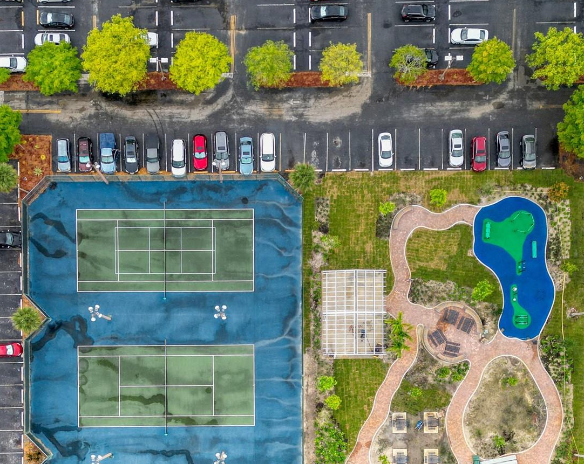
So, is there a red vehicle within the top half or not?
Yes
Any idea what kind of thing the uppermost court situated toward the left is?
tennis court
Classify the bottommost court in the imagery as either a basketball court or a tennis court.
tennis court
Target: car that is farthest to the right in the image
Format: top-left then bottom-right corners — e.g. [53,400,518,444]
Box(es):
[519,134,538,170]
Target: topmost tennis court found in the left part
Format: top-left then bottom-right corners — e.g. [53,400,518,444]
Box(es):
[77,196,255,301]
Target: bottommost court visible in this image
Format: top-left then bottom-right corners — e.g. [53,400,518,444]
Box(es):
[78,339,255,436]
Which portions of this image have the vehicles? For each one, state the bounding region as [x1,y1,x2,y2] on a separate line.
[171,139,187,177]
[0,231,22,248]
[450,27,489,45]
[260,133,276,173]
[192,134,208,170]
[99,132,121,174]
[400,3,436,23]
[135,28,164,49]
[403,49,438,68]
[448,129,465,167]
[214,132,230,169]
[0,55,27,73]
[144,133,161,174]
[470,136,488,173]
[35,29,70,47]
[0,342,24,358]
[39,11,76,30]
[55,137,72,174]
[310,4,348,23]
[378,132,394,168]
[519,134,538,170]
[77,136,94,173]
[495,132,513,168]
[123,136,139,174]
[239,136,255,175]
